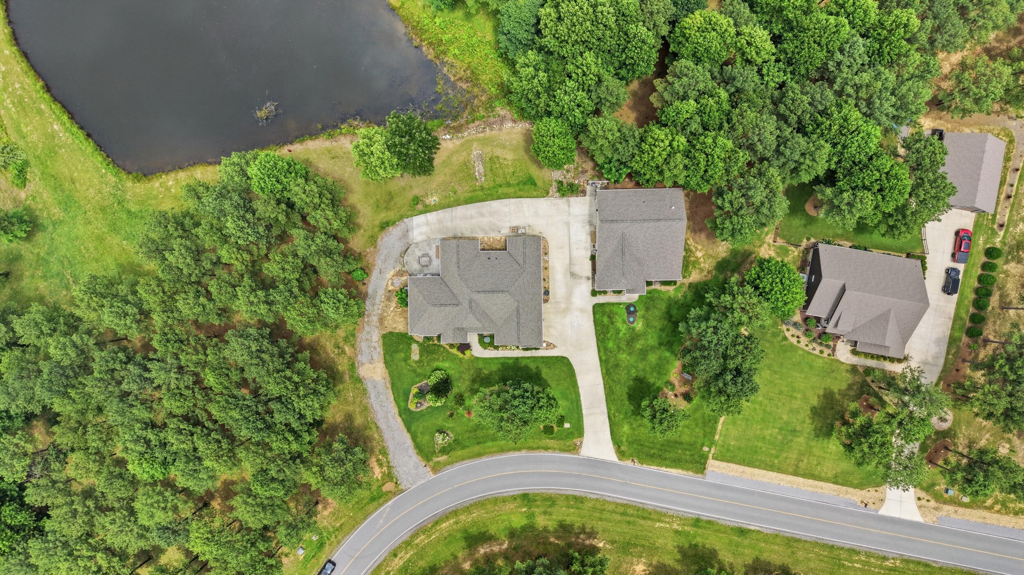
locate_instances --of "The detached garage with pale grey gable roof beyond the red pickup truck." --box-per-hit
[941,131,1006,215]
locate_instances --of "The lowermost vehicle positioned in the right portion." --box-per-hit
[945,267,964,295]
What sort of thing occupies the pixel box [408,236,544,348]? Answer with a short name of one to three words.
house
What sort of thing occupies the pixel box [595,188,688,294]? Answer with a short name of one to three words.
house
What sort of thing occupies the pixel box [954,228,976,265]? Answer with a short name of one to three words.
truck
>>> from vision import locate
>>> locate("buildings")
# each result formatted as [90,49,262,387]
[595,188,688,294]
[408,236,544,348]
[799,243,929,359]
[941,131,1006,215]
